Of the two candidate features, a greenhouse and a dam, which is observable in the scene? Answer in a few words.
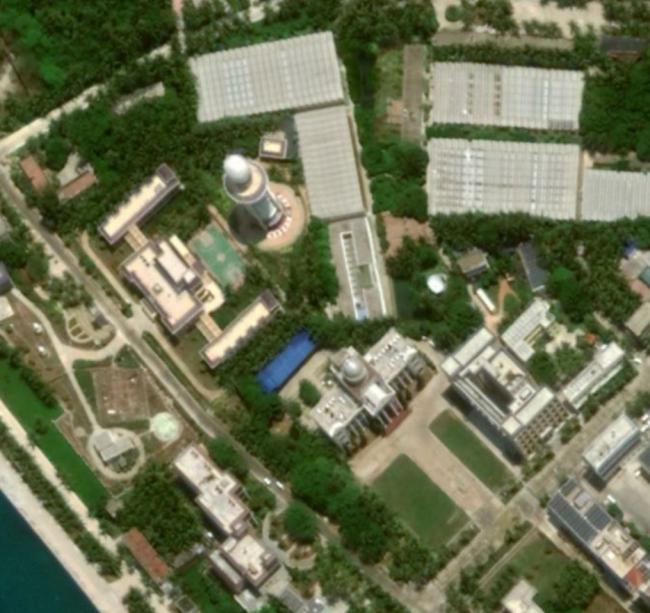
greenhouse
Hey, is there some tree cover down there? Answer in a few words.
Yes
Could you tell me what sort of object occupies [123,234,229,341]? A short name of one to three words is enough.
building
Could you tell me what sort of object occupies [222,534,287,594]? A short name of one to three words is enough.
building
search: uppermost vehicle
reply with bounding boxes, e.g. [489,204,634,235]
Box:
[475,286,495,312]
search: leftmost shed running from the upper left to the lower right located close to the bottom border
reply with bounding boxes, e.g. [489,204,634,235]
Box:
[124,529,170,583]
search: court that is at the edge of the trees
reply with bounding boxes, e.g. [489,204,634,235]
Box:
[189,223,246,289]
